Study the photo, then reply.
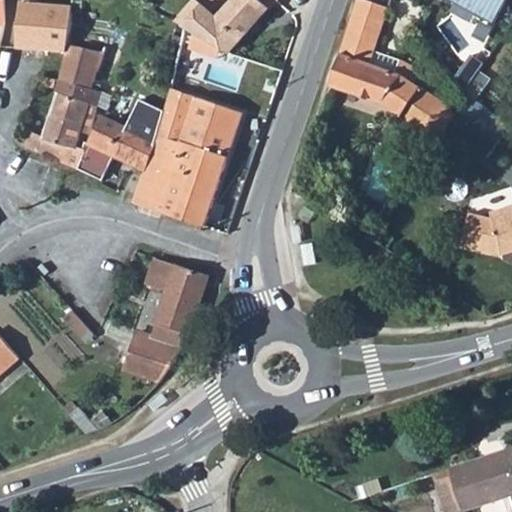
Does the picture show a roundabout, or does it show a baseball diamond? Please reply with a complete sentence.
Visible in the photo is a roundabout.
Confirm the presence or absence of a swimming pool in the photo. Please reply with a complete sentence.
Yes, a swimming pool can be made out from above.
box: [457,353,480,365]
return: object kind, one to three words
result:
vehicle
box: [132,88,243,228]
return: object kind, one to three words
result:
house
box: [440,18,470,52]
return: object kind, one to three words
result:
swimming pool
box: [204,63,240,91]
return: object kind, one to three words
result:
swimming pool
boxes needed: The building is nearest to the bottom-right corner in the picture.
[433,438,512,512]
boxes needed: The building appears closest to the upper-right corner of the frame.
[450,0,506,42]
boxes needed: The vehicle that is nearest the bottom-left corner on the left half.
[1,480,24,494]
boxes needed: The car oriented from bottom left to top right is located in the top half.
[5,154,22,175]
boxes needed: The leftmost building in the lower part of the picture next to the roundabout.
[120,258,210,386]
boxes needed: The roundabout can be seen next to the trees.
[222,304,343,430]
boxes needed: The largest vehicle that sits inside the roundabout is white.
[302,388,334,403]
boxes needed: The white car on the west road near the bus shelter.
[166,410,188,428]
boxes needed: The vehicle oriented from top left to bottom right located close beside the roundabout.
[270,289,288,310]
